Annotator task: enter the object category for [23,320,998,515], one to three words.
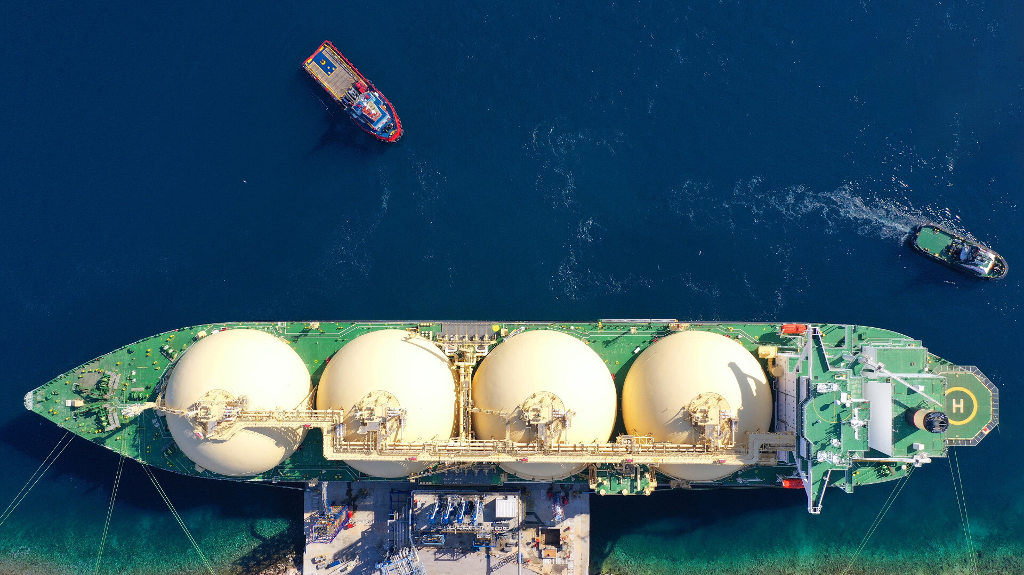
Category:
ship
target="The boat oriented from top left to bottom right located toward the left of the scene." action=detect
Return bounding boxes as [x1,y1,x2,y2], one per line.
[299,37,400,139]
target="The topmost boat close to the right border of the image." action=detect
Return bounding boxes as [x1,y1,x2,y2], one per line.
[911,222,1014,278]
